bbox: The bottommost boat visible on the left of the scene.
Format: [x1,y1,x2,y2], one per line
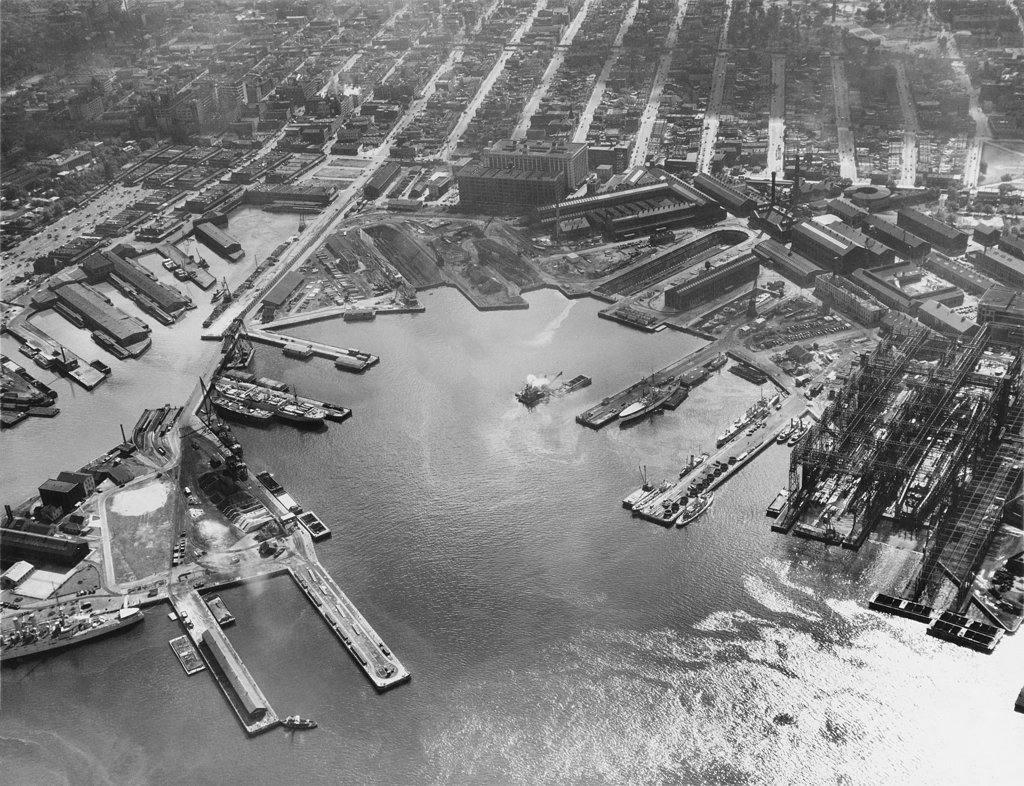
[280,713,318,731]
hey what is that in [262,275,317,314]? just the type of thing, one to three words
shed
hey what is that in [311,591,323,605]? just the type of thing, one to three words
rail car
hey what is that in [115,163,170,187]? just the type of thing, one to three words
building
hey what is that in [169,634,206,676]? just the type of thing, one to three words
ship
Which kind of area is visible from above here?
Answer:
port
